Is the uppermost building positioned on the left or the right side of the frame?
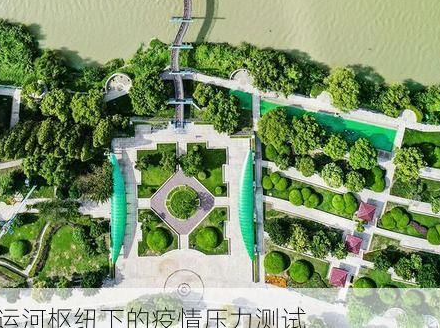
right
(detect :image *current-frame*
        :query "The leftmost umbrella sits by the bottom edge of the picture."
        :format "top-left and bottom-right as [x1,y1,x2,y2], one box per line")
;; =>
[386,306,403,324]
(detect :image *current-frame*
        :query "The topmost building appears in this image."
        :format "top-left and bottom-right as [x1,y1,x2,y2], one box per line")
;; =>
[355,198,376,222]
